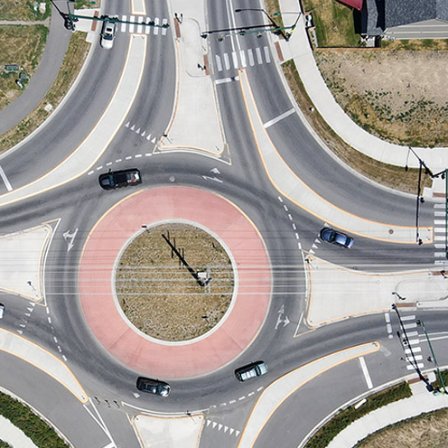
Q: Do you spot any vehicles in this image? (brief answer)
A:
Yes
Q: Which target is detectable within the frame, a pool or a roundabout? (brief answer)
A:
roundabout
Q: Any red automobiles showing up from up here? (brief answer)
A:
No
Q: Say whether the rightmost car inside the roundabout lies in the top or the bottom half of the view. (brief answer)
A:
bottom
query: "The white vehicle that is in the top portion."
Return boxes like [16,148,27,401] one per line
[97,17,115,51]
